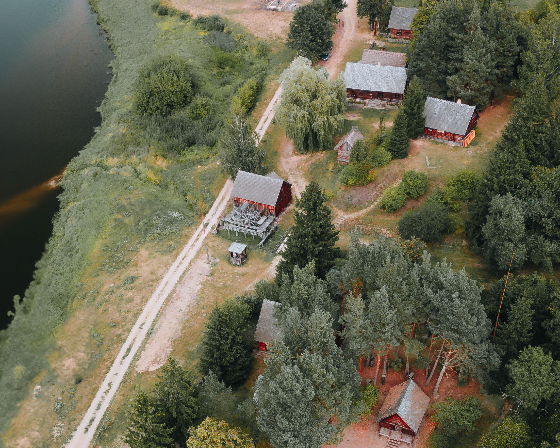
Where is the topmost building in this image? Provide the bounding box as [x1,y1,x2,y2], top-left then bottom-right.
[388,11,416,38]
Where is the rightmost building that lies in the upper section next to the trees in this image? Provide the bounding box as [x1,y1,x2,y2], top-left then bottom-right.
[420,96,481,148]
